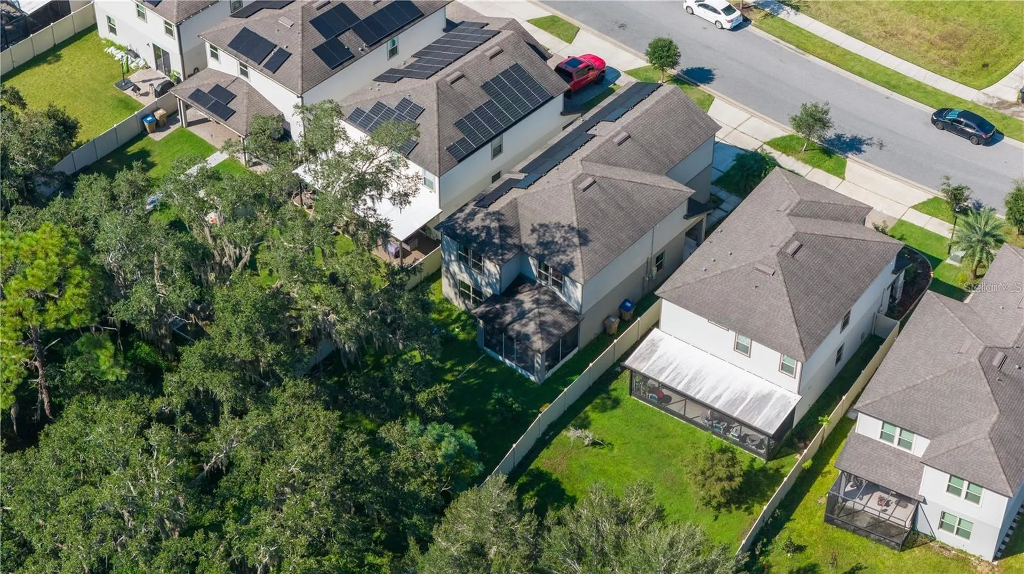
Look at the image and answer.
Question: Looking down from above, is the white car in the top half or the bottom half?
top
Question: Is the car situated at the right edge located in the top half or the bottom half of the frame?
top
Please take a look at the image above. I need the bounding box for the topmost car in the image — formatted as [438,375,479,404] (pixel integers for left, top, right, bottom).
[683,0,741,28]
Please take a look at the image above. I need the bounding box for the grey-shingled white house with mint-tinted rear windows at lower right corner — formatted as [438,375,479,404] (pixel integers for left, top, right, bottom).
[821,239,1024,557]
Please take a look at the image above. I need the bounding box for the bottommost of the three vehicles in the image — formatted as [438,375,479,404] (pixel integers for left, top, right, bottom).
[930,108,997,145]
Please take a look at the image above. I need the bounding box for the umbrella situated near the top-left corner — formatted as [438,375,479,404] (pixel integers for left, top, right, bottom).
[112,56,135,90]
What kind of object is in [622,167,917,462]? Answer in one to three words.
house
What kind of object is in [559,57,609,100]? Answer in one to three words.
truck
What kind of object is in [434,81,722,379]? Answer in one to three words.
house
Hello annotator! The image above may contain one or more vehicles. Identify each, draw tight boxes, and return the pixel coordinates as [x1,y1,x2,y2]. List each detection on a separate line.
[559,57,609,100]
[930,108,997,145]
[683,0,741,28]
